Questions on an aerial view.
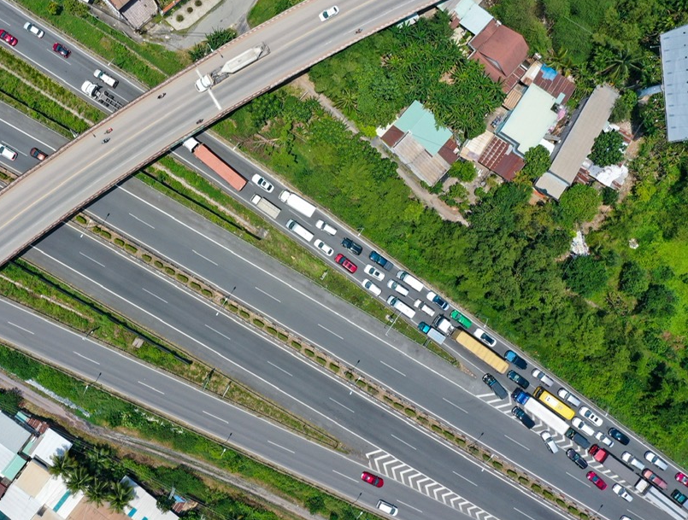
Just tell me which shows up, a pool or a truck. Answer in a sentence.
The one in the frame is a truck.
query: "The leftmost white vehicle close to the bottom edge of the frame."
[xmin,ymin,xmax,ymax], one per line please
[374,499,398,515]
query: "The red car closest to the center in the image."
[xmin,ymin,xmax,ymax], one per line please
[333,253,358,273]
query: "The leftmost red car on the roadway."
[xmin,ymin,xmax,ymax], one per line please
[0,28,20,47]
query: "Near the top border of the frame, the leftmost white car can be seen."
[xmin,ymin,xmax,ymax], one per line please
[21,20,46,40]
